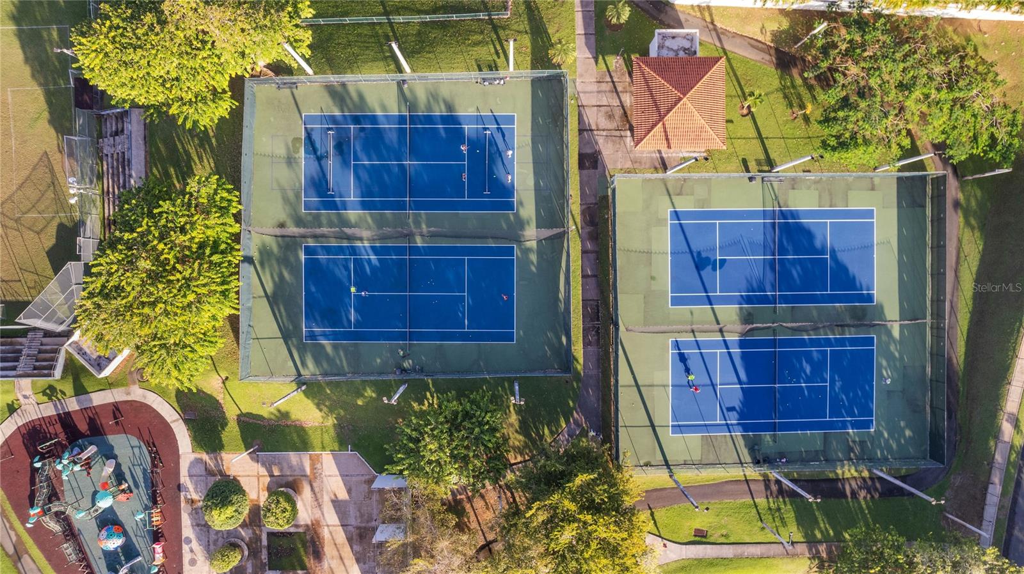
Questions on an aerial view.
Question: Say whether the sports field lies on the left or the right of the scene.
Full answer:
You can find the sports field on the left side of the picture.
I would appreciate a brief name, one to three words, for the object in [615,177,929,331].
tennis court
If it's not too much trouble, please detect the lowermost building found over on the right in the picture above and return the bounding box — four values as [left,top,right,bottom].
[632,56,727,151]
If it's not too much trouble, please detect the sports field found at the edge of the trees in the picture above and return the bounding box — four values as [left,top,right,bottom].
[0,0,79,325]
